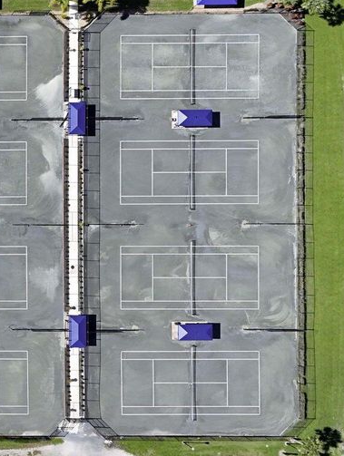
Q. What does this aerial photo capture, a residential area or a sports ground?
sports ground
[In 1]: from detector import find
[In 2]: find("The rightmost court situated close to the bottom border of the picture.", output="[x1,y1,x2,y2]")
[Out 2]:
[86,327,297,438]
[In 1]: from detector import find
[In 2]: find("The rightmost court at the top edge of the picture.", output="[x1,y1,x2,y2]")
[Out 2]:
[85,14,296,120]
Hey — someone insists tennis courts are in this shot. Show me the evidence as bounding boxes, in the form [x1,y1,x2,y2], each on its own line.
[86,327,297,438]
[0,226,64,330]
[85,14,296,120]
[0,120,64,226]
[85,119,297,229]
[85,221,297,330]
[0,15,64,120]
[0,328,64,438]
